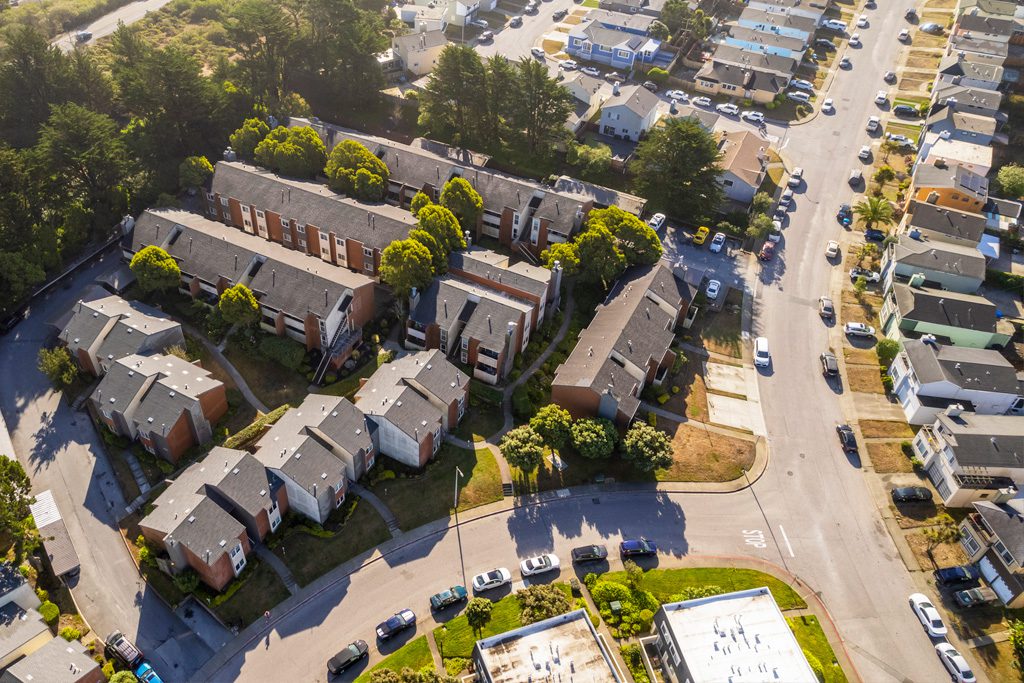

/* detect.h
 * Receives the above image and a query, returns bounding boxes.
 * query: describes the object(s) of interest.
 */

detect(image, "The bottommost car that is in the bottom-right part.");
[939,644,973,683]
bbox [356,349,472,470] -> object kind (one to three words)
house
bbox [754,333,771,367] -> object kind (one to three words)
vehicle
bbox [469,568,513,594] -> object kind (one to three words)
car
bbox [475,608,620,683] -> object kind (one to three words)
building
